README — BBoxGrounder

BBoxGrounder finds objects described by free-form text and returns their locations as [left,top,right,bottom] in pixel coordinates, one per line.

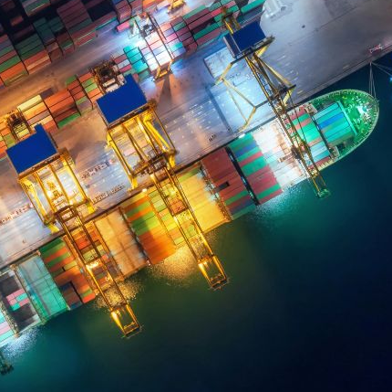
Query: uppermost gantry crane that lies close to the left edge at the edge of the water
[6,112,144,338]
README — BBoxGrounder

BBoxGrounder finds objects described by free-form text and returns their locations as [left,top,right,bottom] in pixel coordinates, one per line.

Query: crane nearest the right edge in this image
[214,8,334,200]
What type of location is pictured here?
port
